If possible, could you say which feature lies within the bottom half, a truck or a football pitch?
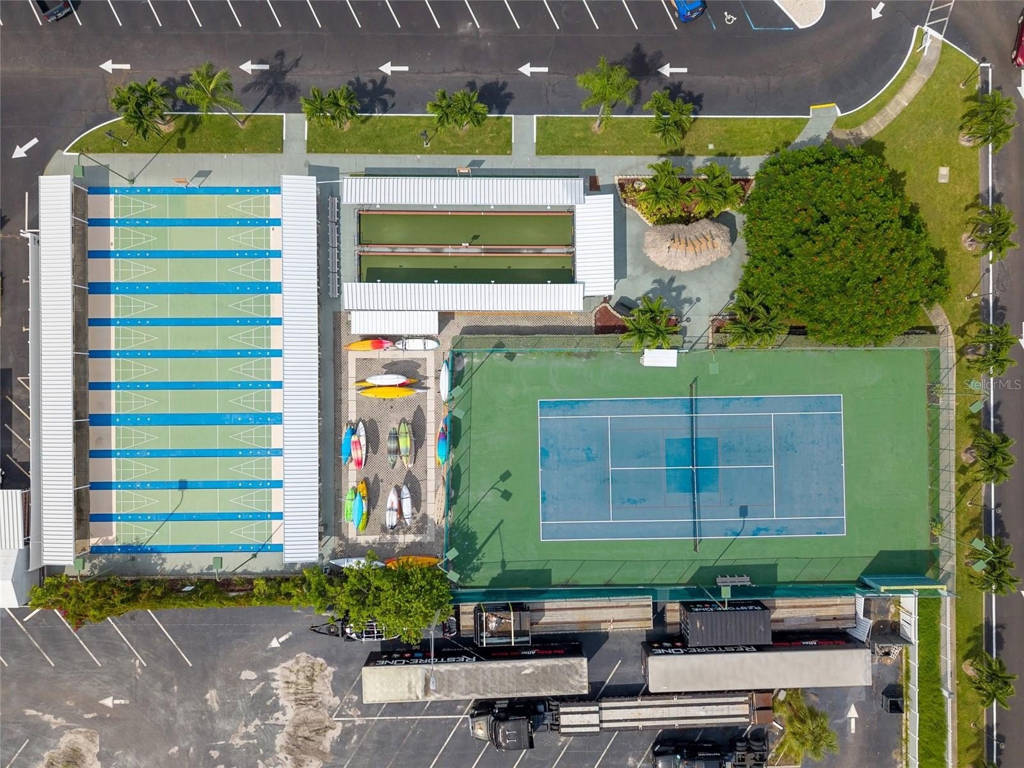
truck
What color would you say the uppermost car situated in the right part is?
blue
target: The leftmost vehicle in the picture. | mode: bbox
[36,0,71,24]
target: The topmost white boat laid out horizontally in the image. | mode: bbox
[395,338,439,351]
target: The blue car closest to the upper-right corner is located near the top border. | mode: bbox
[670,0,703,24]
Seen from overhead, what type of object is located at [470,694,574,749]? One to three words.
truck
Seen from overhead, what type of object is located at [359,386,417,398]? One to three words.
boat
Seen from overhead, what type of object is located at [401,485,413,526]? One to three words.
boat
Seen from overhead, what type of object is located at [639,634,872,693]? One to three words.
trailer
